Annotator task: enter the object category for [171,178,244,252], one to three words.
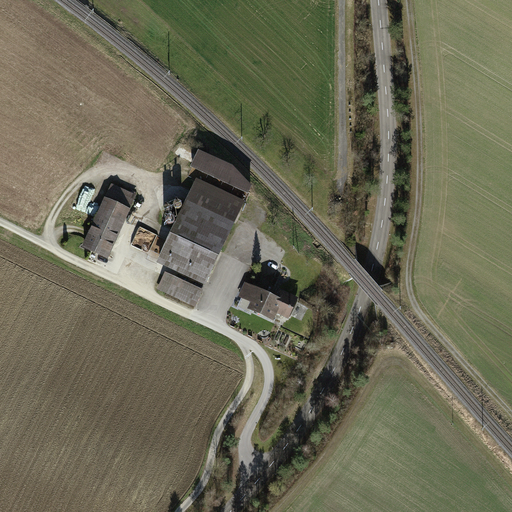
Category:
barn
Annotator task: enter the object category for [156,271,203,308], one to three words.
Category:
shed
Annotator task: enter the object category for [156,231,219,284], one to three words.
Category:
building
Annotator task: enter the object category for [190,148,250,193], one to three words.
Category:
shed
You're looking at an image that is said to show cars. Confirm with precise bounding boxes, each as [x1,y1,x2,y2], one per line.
[268,262,277,268]
[98,256,107,263]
